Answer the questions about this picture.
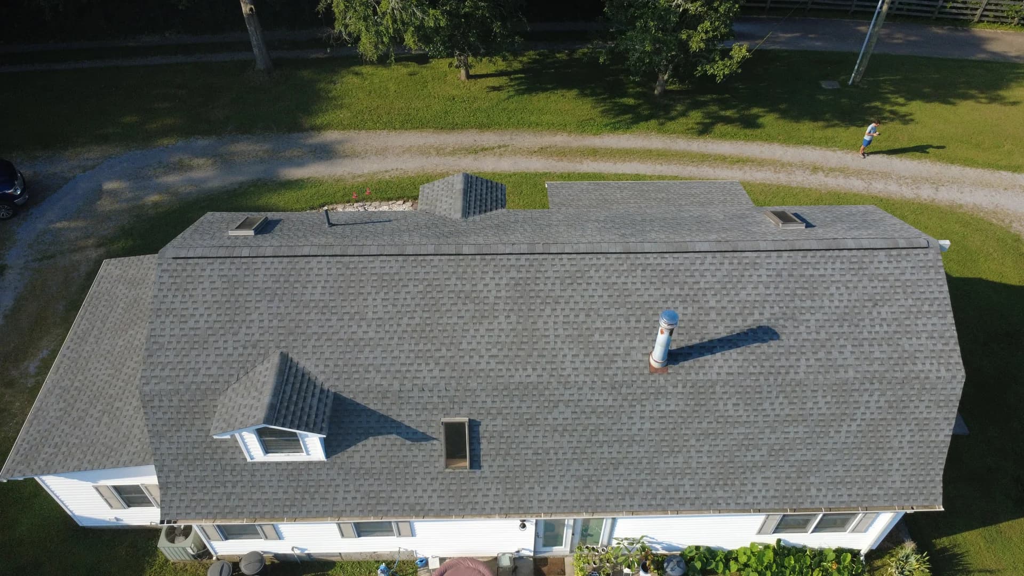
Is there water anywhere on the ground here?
No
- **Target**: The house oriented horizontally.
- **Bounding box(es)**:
[0,168,966,567]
